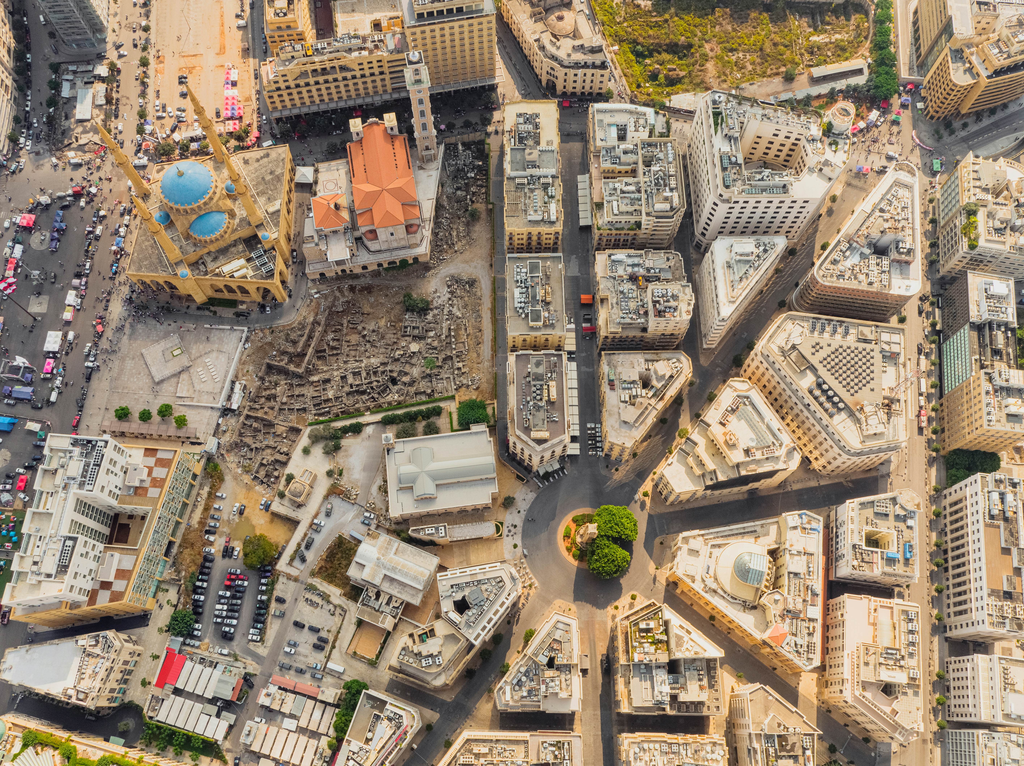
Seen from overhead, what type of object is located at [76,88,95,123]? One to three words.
shed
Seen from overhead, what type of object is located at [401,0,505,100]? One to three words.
building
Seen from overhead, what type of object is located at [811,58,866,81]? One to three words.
shed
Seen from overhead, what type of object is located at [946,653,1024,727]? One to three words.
building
